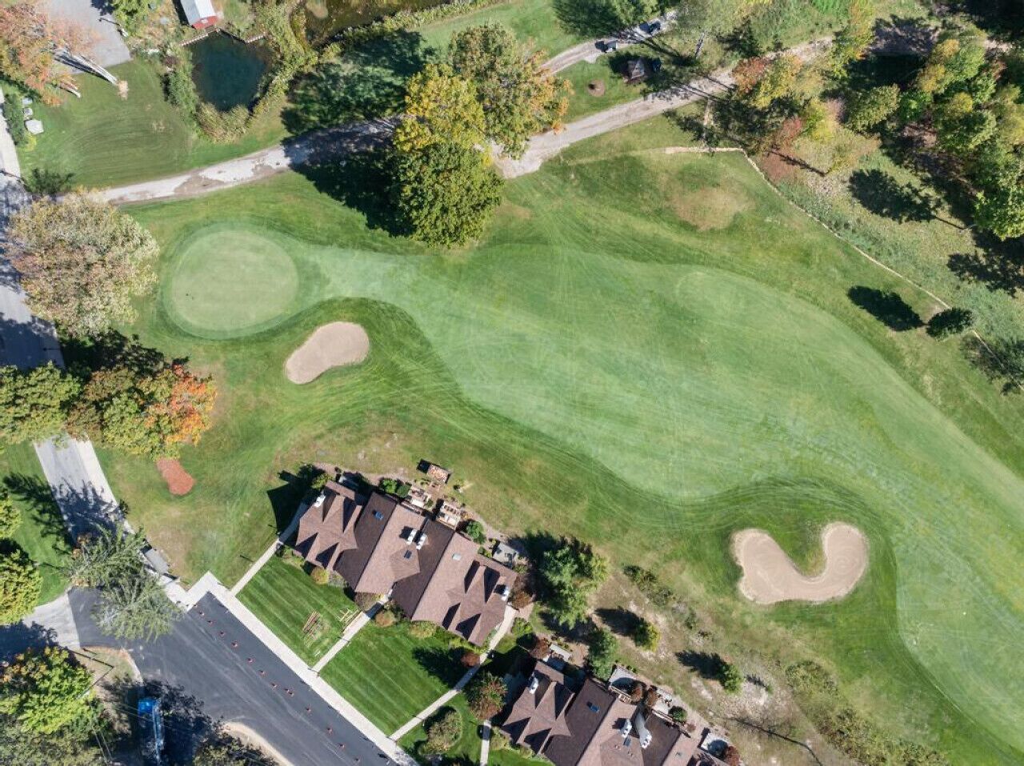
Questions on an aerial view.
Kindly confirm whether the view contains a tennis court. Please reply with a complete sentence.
No, I can see no tennis court in this picture.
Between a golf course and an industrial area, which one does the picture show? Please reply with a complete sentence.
What you see here is a golf course.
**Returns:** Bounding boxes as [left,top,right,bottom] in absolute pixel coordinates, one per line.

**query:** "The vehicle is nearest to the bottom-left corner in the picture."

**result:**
[136,693,165,766]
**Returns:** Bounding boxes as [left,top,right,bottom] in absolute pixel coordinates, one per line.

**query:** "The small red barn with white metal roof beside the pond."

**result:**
[179,0,218,29]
